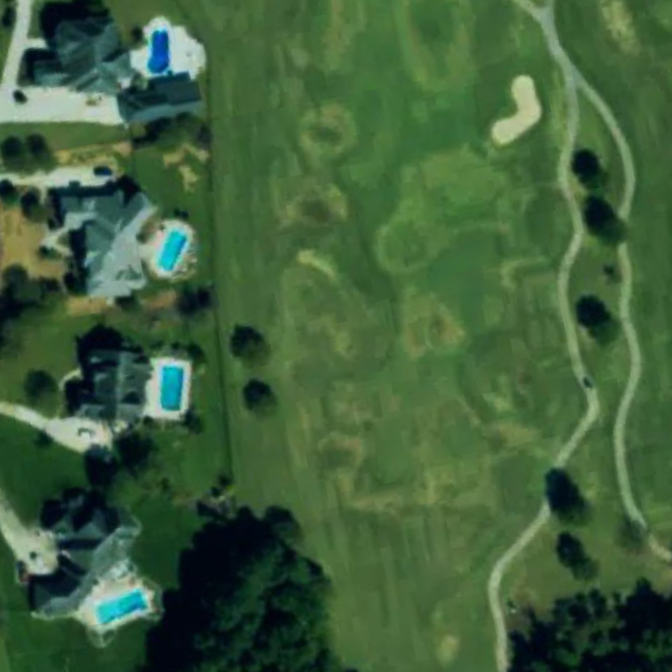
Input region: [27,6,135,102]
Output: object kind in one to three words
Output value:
house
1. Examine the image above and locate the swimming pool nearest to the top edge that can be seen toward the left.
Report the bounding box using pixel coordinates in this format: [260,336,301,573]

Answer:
[135,17,207,81]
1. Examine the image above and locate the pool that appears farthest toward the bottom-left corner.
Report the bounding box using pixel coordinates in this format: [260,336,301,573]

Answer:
[75,576,159,629]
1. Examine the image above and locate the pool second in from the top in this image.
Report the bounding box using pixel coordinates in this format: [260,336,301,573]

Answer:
[141,219,195,280]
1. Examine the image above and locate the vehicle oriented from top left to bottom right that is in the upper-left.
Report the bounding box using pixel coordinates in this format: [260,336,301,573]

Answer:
[14,88,27,104]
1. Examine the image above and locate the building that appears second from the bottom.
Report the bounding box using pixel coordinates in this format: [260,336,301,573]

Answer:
[64,348,149,423]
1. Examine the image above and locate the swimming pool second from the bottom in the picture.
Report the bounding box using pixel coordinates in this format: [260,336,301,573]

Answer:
[144,359,191,420]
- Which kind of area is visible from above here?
golf course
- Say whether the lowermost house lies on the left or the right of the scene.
left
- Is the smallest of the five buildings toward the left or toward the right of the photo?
left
